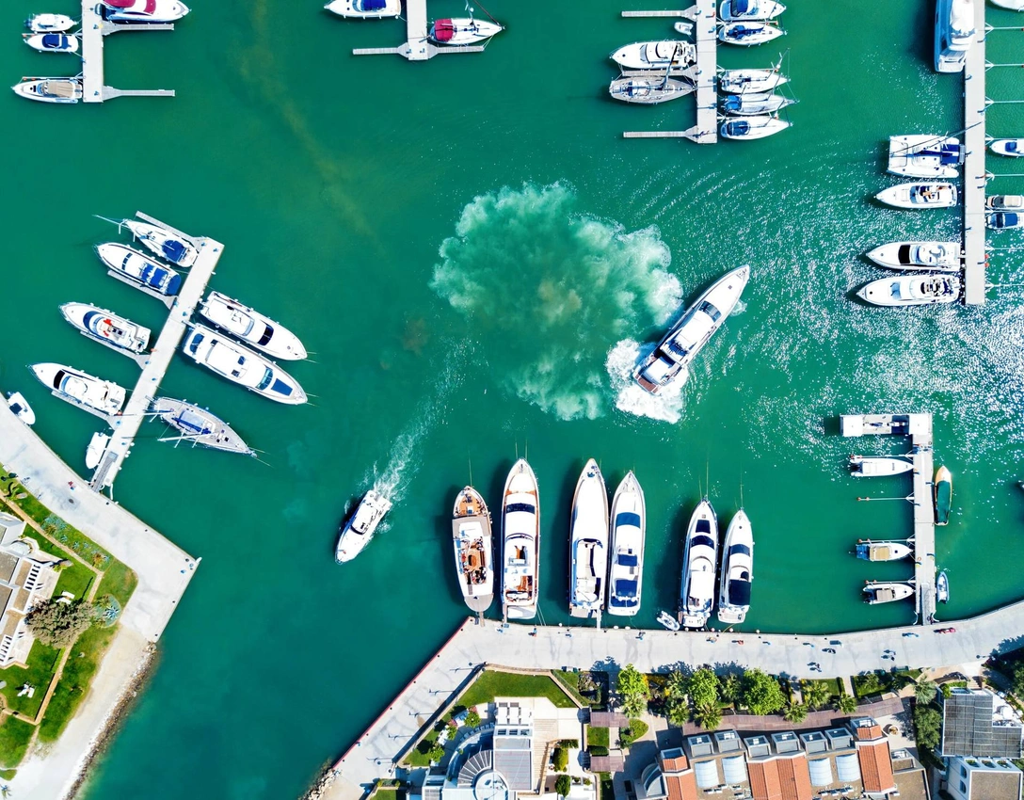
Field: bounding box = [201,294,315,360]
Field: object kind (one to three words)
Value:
boat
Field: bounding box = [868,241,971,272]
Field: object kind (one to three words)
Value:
boat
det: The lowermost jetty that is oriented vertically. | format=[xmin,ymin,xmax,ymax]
[852,414,939,628]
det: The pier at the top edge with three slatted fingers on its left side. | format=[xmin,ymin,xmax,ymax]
[621,0,734,146]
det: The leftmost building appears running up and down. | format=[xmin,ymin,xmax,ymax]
[0,503,73,669]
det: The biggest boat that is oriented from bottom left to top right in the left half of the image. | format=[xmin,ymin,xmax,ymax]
[338,491,391,562]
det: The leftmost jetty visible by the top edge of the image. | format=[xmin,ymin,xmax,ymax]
[24,0,176,106]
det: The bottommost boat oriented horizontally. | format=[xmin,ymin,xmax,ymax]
[860,582,914,602]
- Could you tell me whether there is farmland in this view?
No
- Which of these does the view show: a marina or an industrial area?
marina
